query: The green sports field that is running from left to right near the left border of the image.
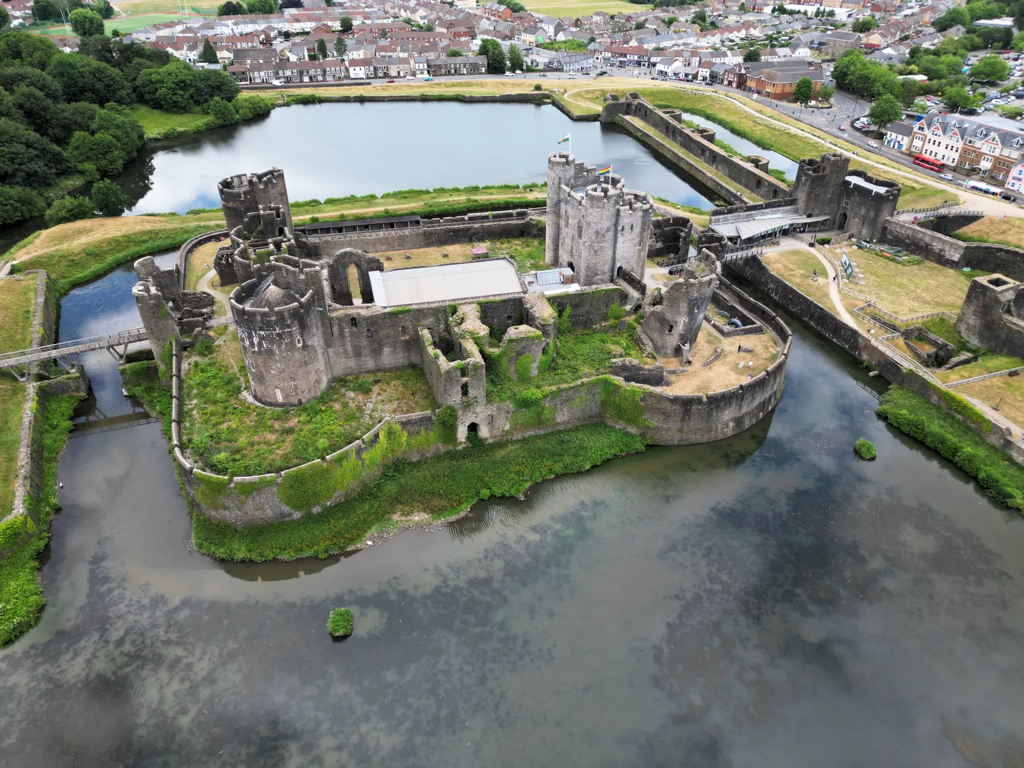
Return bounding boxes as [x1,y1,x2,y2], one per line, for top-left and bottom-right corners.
[36,13,194,40]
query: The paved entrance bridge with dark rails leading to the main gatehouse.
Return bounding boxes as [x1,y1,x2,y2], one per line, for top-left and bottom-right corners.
[902,192,974,228]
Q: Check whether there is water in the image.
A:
Yes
